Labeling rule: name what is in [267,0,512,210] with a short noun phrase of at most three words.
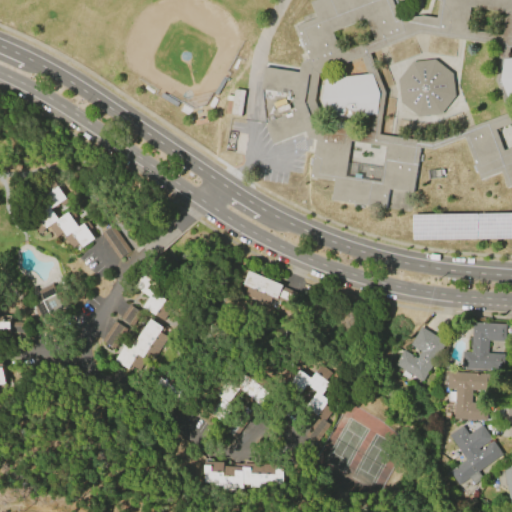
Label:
building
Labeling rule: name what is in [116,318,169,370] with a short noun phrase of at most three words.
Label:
house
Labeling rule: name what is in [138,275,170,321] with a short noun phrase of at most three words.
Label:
house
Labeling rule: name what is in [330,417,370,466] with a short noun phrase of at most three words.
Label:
tennis court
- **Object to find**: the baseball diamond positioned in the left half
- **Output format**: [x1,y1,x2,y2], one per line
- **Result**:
[125,0,240,107]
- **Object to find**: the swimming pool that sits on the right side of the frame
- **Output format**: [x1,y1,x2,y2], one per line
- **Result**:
[450,328,474,366]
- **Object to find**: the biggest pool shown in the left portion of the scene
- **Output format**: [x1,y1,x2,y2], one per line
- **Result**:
[20,244,63,289]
